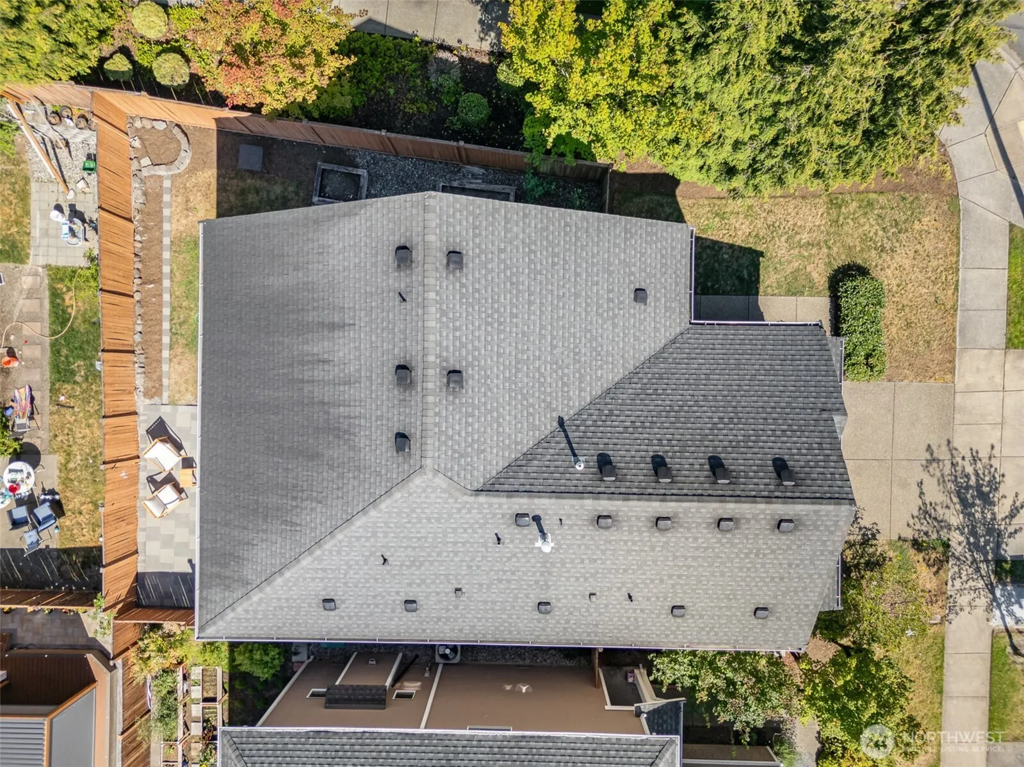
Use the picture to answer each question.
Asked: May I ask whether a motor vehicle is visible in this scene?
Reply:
No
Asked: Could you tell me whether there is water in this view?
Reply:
No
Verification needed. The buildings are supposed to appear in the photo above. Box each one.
[214,651,688,767]
[190,192,856,654]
